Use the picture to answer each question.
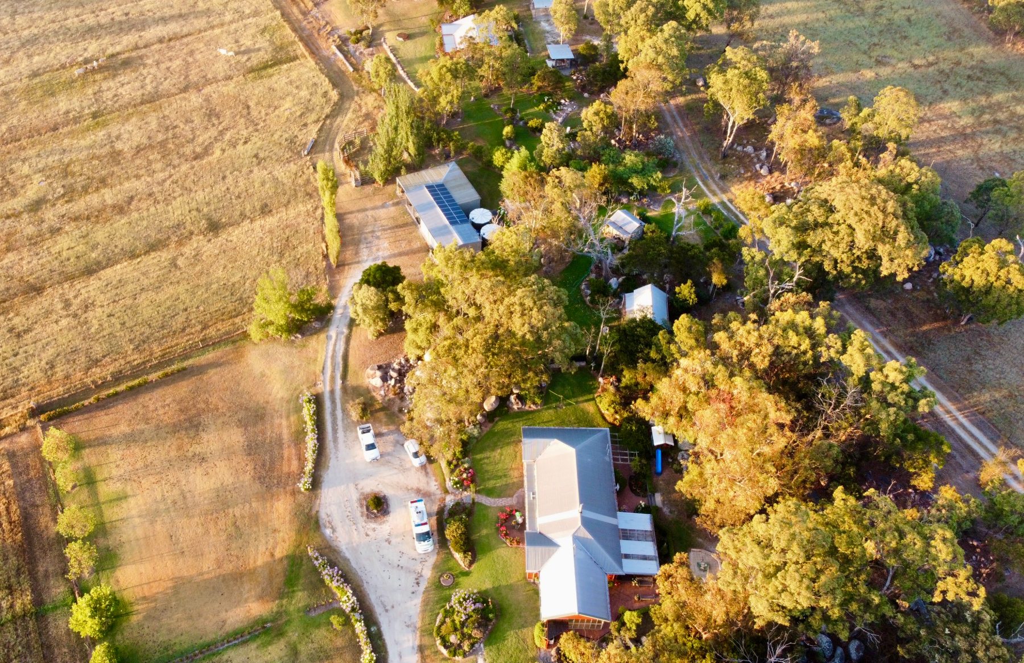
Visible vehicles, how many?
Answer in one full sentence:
The number of vehicles here is 3.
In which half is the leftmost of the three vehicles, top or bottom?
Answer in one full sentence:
You can find the leftmost of the three vehicles in the bottom half.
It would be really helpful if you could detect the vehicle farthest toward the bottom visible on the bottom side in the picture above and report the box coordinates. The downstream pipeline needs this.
[410,498,433,554]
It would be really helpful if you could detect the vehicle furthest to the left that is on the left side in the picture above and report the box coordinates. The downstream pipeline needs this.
[359,424,379,461]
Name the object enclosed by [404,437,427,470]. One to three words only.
car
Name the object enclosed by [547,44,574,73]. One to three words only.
building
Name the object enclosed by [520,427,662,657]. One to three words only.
house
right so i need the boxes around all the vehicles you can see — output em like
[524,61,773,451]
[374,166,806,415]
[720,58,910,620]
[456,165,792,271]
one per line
[404,437,427,470]
[359,424,379,461]
[410,498,433,554]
